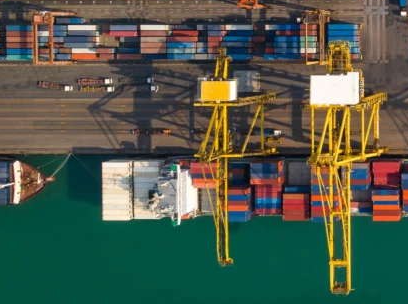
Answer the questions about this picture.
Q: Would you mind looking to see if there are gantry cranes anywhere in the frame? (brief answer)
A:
Yes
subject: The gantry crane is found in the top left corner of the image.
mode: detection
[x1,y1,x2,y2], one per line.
[31,8,81,63]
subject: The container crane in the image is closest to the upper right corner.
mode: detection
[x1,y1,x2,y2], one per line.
[302,5,336,65]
